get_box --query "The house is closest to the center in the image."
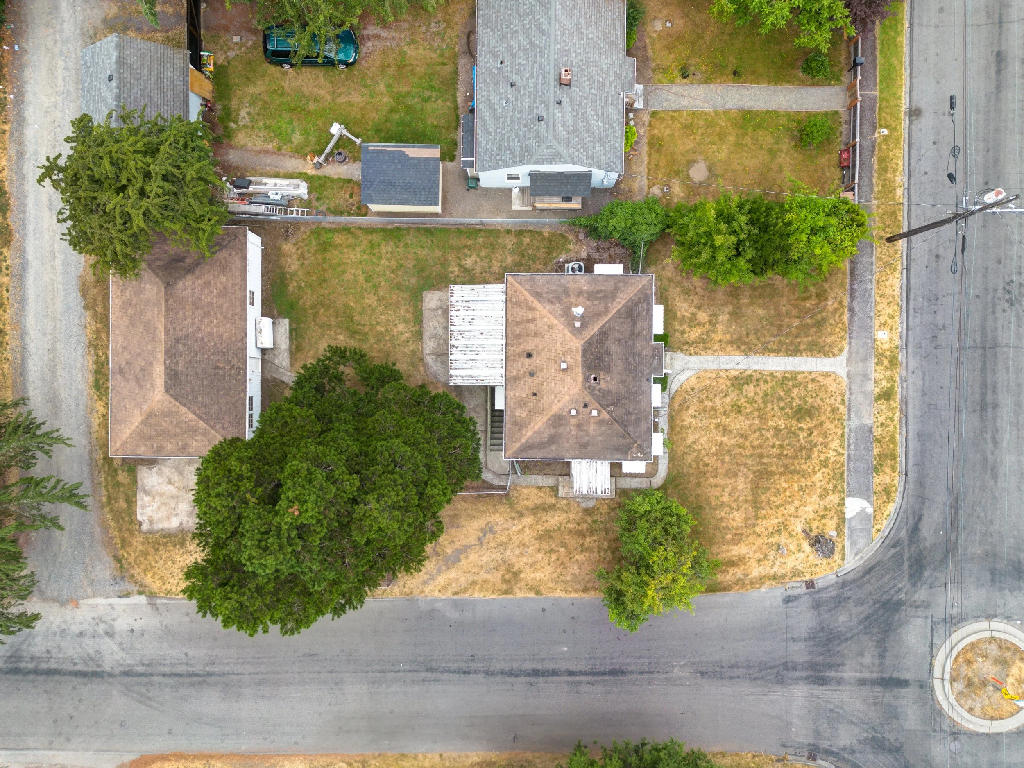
[448,264,672,495]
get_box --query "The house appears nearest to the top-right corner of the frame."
[460,0,637,197]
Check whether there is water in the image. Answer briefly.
No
